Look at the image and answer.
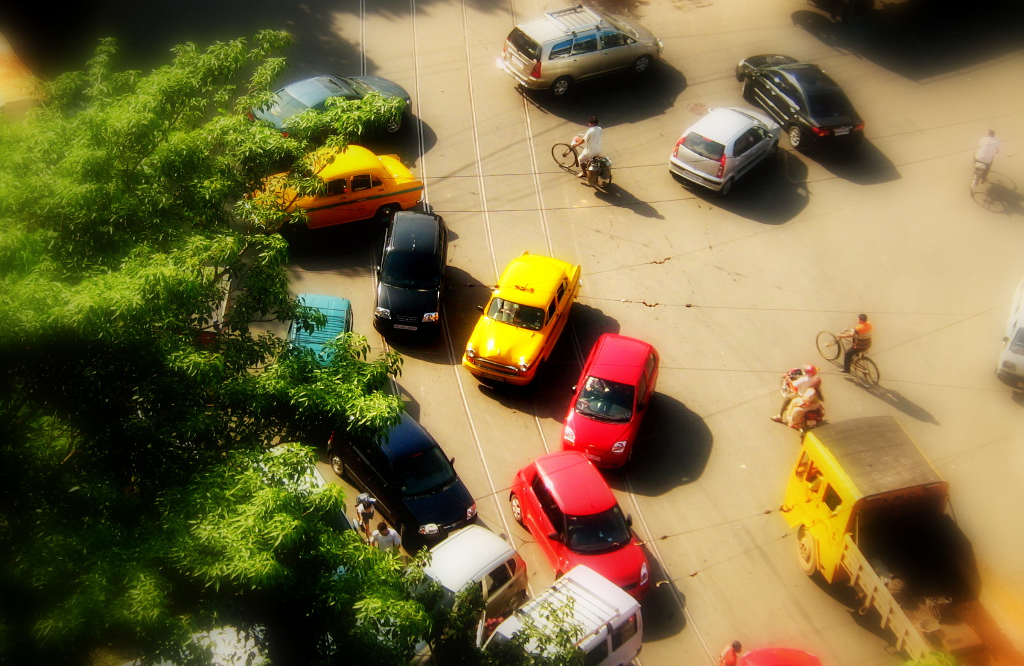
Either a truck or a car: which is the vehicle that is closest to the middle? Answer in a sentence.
Specifically, the vehicle that is closest to the middle is a car.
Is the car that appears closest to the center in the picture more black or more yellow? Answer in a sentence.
The car that appears closest to the center looks yellow in the image.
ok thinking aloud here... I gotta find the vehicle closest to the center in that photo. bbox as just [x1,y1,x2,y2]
[460,258,578,393]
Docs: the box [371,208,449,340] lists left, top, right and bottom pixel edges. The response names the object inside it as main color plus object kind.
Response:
black car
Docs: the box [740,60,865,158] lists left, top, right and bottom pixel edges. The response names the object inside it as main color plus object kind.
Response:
black car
